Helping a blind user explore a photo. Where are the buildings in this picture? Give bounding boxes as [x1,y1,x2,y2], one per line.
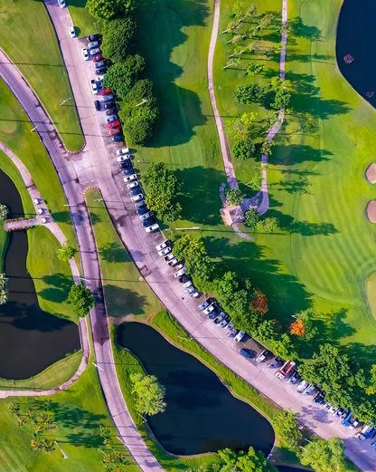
[218,204,243,226]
